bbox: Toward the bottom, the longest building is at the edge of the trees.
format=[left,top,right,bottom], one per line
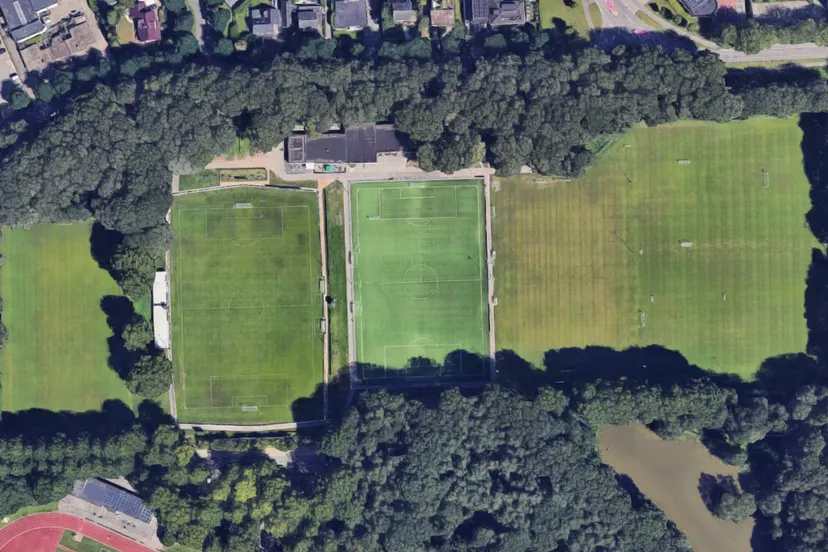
[74,477,154,523]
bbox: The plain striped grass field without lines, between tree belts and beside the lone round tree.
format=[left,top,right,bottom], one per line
[0,214,172,445]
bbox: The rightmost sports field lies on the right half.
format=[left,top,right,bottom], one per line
[491,111,828,398]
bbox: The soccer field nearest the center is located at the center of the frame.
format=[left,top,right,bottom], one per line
[351,179,490,385]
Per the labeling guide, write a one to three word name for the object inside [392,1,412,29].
house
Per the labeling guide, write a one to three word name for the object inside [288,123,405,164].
building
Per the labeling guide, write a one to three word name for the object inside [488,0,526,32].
house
